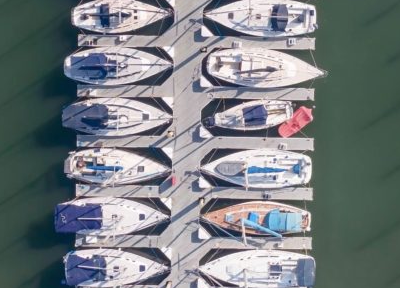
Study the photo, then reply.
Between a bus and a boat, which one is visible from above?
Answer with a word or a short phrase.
boat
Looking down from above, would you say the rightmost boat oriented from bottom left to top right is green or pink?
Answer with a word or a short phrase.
pink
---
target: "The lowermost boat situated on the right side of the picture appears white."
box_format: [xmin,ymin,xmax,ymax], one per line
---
[182,245,317,288]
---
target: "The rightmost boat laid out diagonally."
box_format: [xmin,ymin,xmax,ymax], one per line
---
[278,100,318,139]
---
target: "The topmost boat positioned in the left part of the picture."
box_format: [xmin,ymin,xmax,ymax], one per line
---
[71,0,190,40]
